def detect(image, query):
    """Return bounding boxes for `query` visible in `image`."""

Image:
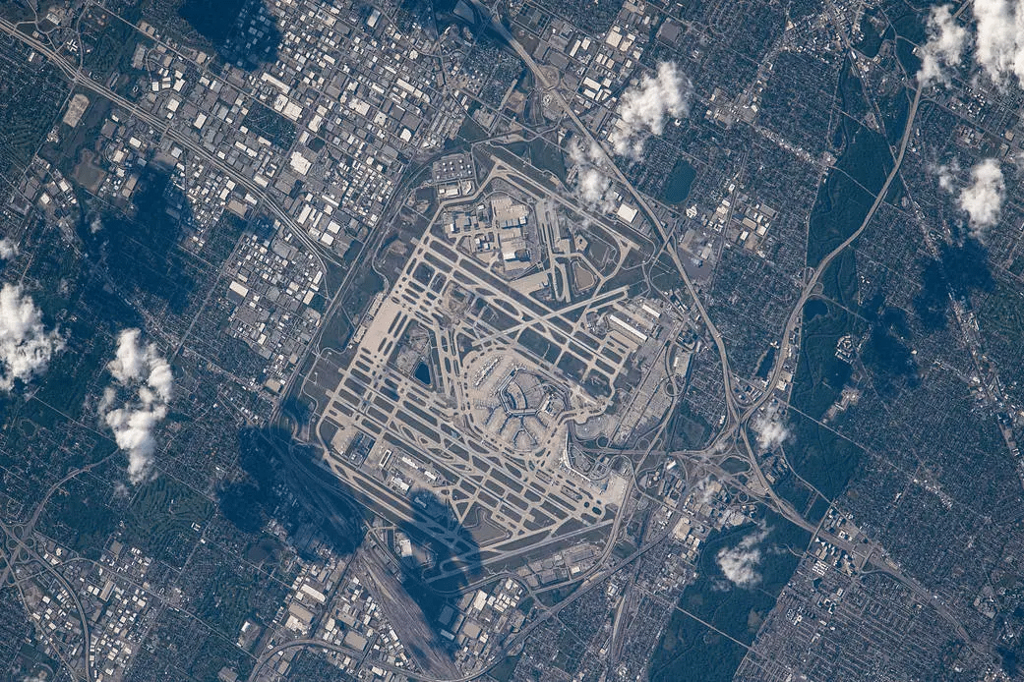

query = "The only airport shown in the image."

[291,147,679,596]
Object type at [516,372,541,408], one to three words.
building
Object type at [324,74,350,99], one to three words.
building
